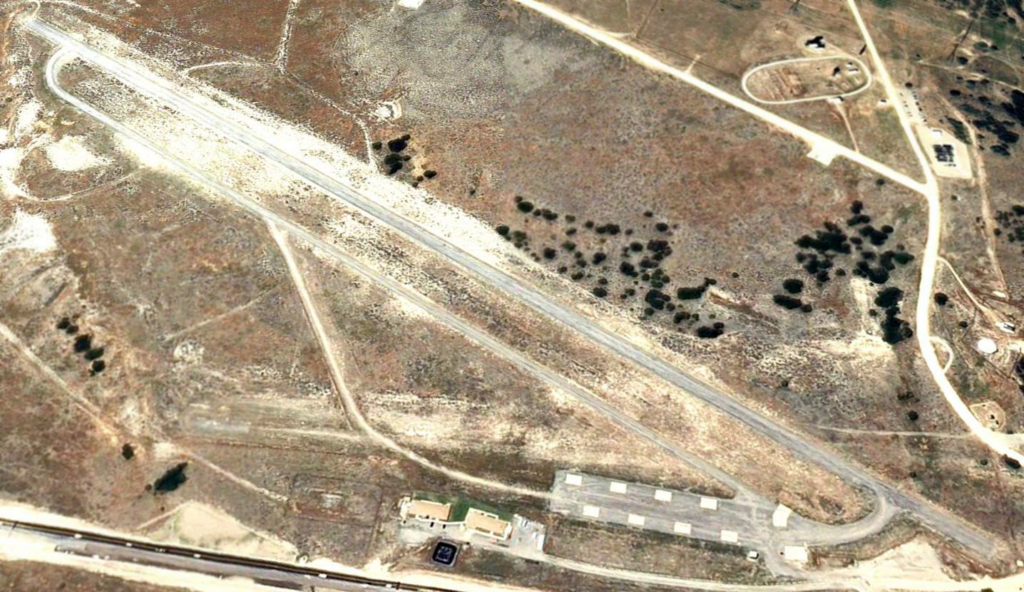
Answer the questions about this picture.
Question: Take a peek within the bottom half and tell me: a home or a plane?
home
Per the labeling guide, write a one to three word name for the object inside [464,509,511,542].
house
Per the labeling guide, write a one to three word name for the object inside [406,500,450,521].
house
